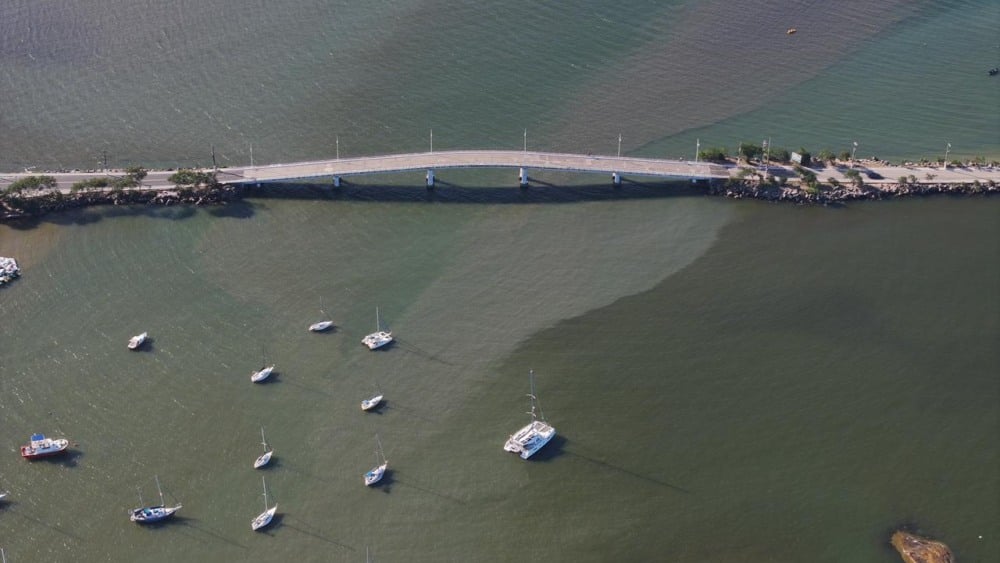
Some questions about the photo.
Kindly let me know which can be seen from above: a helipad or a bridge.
bridge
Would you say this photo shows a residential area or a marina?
marina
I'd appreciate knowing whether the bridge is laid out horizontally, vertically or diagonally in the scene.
horizontally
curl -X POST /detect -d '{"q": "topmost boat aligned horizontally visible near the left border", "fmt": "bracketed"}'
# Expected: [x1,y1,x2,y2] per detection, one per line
[21,435,74,460]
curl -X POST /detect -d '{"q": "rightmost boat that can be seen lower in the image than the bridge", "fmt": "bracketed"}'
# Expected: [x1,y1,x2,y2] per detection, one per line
[504,370,555,461]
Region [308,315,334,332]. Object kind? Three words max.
boat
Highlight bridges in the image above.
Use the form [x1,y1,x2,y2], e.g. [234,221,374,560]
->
[240,150,713,191]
